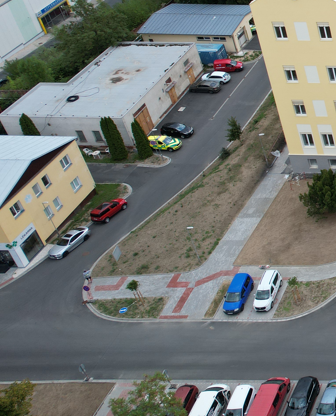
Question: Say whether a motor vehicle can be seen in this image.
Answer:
Yes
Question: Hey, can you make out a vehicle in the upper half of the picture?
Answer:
Yes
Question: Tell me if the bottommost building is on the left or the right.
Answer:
left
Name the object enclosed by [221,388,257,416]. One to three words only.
car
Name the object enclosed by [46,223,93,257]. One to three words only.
car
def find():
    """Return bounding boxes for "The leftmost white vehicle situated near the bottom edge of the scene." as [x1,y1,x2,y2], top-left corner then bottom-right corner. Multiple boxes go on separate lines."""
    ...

[188,385,228,416]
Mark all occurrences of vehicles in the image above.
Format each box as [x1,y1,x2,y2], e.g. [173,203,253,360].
[283,380,321,416]
[186,79,222,93]
[222,271,258,315]
[221,388,257,416]
[253,271,285,311]
[148,132,183,149]
[249,378,290,416]
[314,381,336,416]
[46,223,93,257]
[210,56,244,71]
[85,194,132,221]
[156,119,195,136]
[188,385,228,416]
[160,388,199,416]
[197,68,233,82]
